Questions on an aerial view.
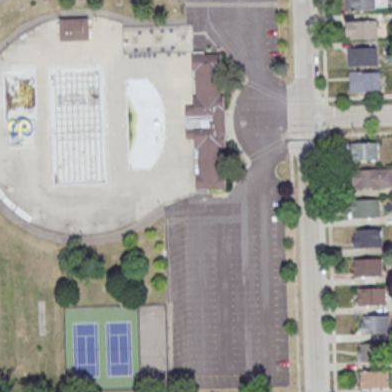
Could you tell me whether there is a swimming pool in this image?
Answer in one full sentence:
Yes, there is a swimming pool in the image.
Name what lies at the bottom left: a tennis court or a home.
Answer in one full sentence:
Looking at the bottom left, you will find a tennis court.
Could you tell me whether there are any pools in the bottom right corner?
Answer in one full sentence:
No, I can find no pool in the bottom right corner.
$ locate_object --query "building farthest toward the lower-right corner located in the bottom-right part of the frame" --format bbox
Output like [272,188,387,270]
[358,372,390,392]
